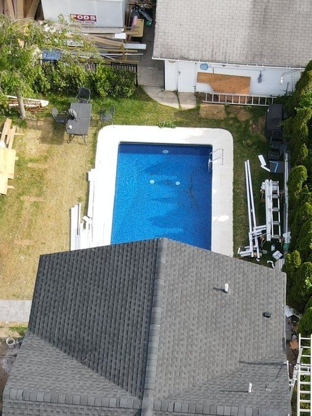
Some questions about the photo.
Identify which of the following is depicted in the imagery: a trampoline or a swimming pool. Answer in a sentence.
Visible in the photo is a swimming pool.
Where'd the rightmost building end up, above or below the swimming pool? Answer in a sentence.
In the image, the rightmost building sits above the swimming pool.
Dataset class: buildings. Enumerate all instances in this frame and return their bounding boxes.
[1,237,293,416]
[152,0,311,97]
